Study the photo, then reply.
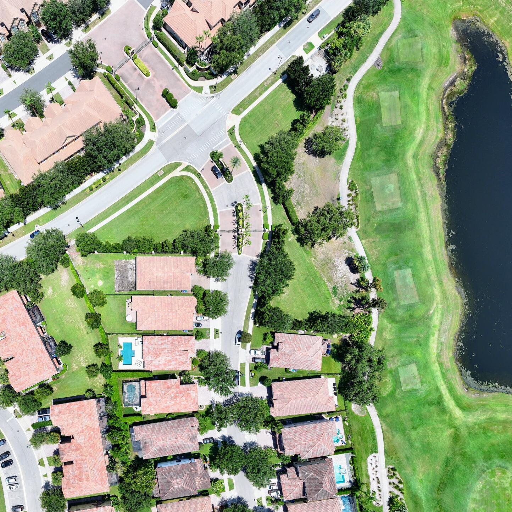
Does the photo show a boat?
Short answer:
No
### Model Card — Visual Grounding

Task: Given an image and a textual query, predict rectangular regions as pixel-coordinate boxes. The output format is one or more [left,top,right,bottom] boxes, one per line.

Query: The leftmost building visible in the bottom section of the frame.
[0,290,60,392]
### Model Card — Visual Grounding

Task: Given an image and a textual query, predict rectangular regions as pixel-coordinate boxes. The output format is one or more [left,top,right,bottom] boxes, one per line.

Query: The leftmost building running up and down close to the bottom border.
[51,399,109,497]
